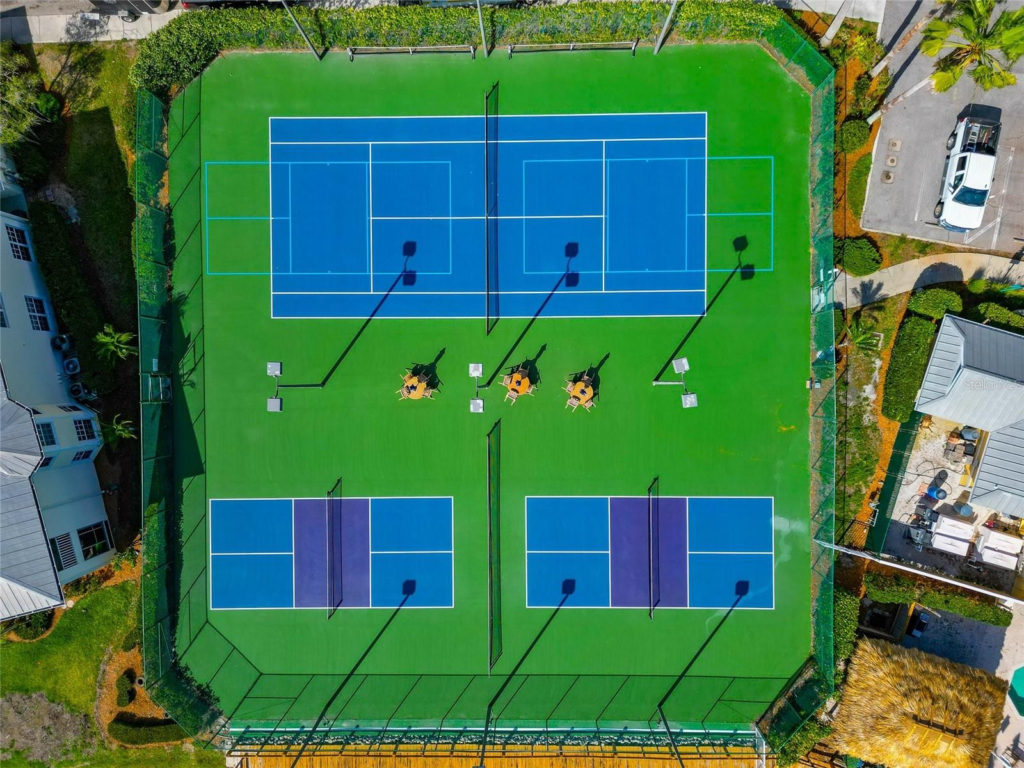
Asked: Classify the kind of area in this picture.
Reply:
sports ground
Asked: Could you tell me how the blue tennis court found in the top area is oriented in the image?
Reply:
from left to right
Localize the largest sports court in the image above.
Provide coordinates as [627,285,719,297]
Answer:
[167,42,812,722]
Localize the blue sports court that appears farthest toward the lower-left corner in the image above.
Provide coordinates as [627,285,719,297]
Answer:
[210,497,454,609]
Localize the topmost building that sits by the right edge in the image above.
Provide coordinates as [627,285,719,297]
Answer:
[912,311,1024,523]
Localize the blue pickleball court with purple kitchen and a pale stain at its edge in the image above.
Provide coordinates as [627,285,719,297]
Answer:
[525,497,775,609]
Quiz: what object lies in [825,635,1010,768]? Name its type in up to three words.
shed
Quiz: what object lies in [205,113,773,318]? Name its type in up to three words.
tennis court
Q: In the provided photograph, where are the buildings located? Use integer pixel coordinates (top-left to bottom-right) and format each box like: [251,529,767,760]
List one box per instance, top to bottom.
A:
[0,209,117,621]
[912,311,1024,523]
[825,635,1010,768]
